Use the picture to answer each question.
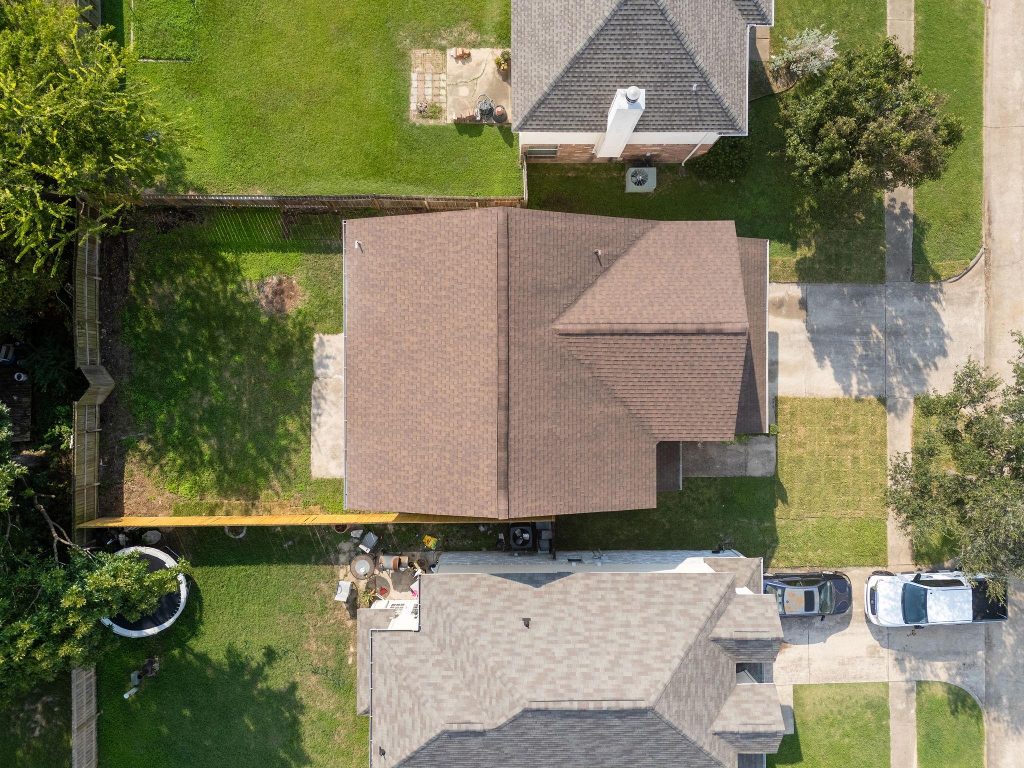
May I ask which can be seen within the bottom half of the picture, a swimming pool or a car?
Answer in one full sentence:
The one visible within the bottom half of the picture is a car.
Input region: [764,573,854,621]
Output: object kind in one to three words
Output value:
car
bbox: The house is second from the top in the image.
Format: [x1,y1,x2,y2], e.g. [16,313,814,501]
[342,206,771,521]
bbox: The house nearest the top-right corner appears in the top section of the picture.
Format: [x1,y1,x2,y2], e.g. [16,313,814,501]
[509,0,777,172]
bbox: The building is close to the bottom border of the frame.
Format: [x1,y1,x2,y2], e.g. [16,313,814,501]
[355,546,786,768]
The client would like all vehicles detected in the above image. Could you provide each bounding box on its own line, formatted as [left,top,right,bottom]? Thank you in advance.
[764,573,854,621]
[862,574,1005,634]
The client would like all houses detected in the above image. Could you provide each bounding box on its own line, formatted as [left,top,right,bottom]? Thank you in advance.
[355,546,786,768]
[342,206,771,521]
[509,0,777,172]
